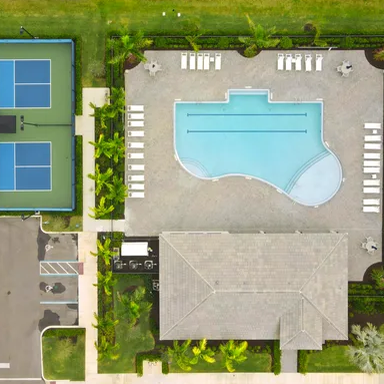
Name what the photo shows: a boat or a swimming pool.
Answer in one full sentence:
The one in the frame is a swimming pool.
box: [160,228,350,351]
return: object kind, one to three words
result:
building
